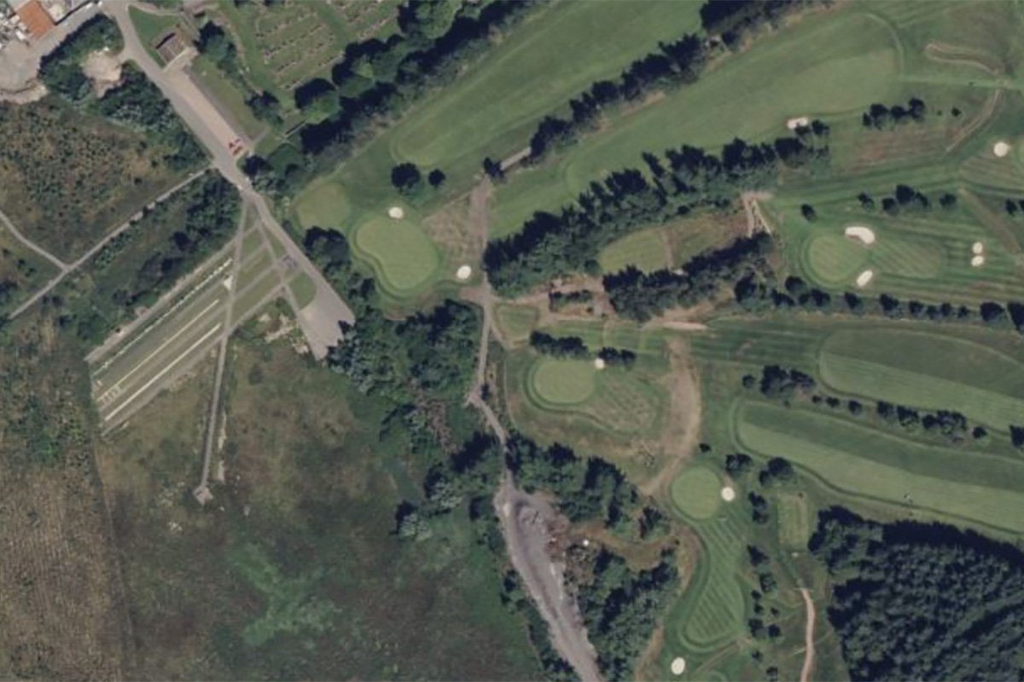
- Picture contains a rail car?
No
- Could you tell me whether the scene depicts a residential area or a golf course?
golf course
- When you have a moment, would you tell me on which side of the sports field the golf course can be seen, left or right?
to the right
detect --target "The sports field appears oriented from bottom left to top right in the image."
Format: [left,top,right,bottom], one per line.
[82,208,313,437]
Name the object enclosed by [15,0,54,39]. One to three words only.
building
